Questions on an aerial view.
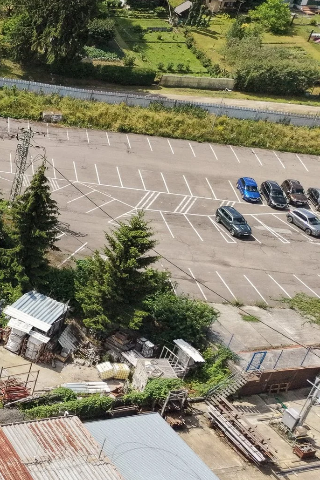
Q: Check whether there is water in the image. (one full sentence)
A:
No, there is no water in the image.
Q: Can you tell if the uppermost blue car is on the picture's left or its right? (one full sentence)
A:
The uppermost blue car is on the right side of the image.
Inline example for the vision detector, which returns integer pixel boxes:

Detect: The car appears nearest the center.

[220,201,256,233]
